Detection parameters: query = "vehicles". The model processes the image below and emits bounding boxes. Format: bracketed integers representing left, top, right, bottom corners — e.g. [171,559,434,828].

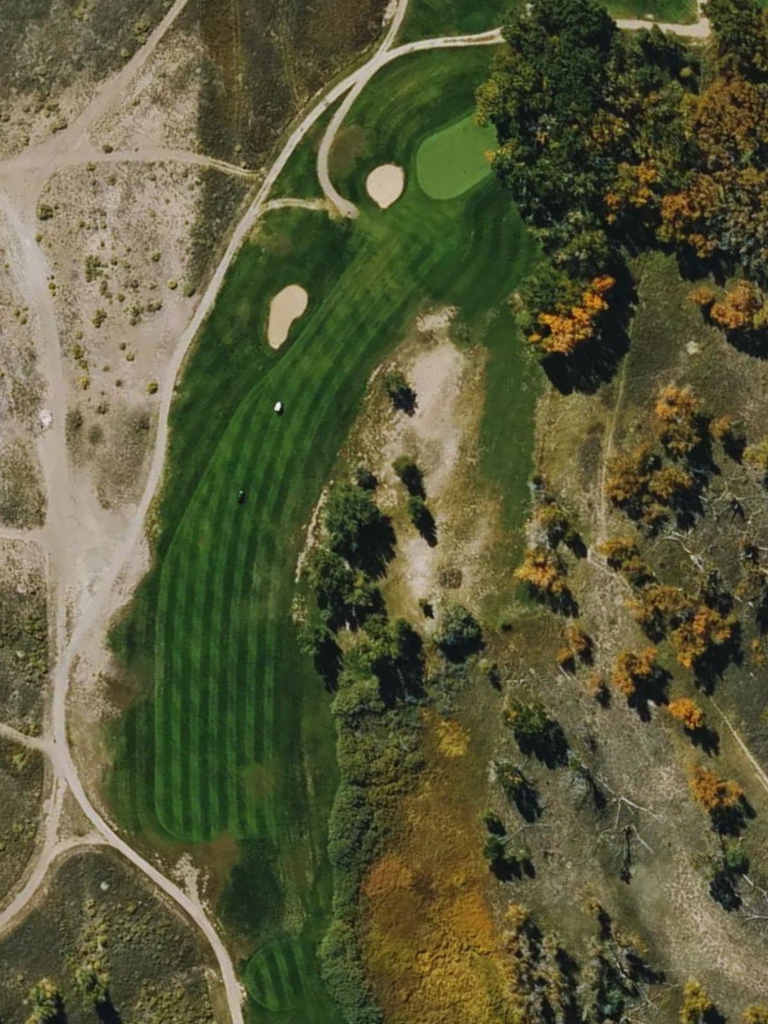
[274,402,281,413]
[238,491,245,502]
